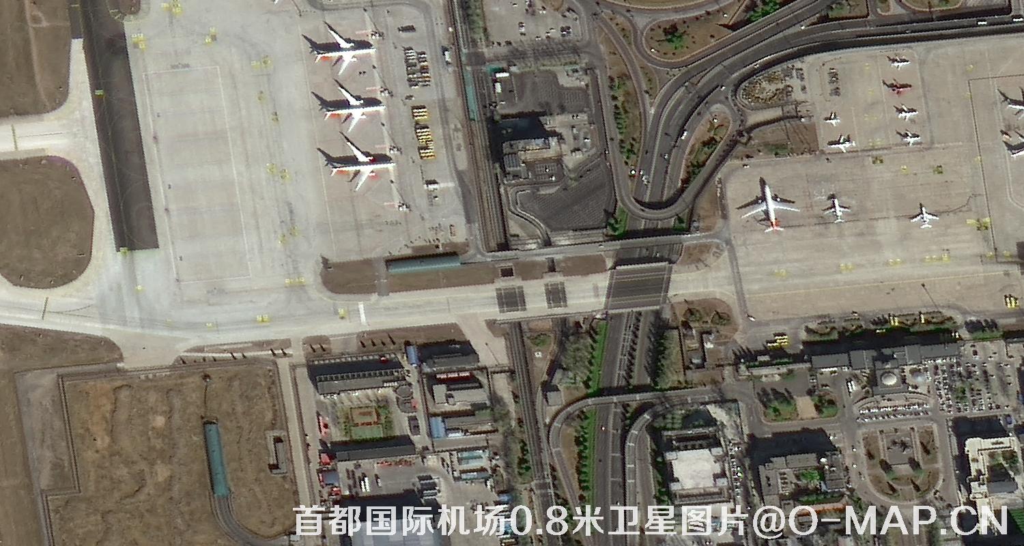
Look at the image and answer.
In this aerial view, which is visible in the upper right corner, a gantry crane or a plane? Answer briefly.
plane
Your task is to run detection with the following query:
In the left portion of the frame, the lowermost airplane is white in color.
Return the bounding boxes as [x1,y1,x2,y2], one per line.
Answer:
[331,140,396,195]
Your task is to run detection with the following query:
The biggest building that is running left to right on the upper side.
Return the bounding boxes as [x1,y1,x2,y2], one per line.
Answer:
[500,130,562,159]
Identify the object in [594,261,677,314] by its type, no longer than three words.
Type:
bridge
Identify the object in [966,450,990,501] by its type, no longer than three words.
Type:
building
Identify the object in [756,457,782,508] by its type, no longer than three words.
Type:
building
